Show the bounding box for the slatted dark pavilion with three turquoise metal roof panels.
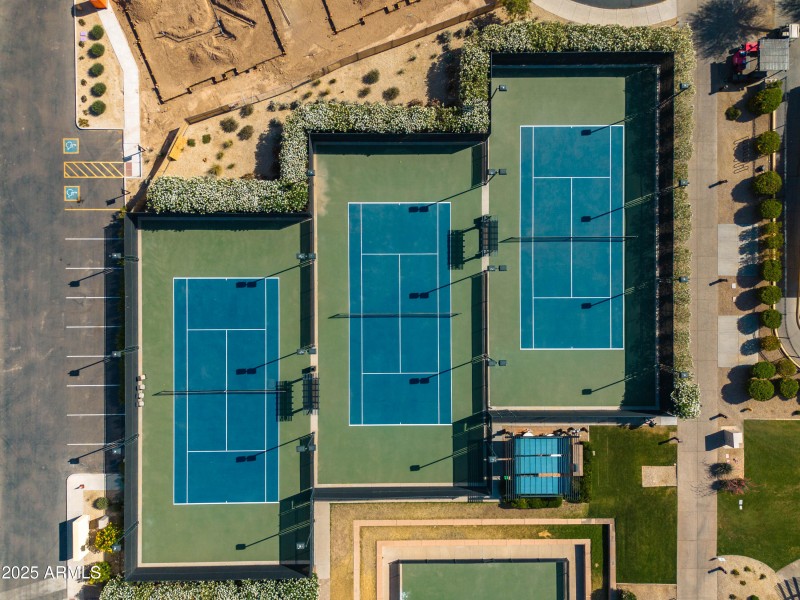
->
[505,430,580,500]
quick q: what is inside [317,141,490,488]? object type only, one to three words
tennis court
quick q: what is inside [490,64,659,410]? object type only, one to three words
tennis court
